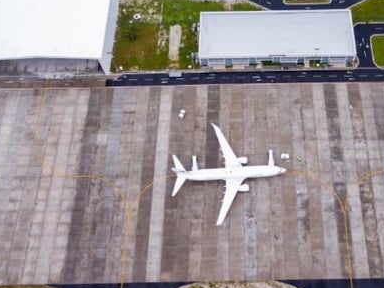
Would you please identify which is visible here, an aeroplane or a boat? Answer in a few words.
aeroplane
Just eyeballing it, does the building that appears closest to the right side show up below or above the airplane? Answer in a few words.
above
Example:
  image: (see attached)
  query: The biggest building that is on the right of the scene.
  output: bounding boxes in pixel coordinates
[199,11,356,65]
